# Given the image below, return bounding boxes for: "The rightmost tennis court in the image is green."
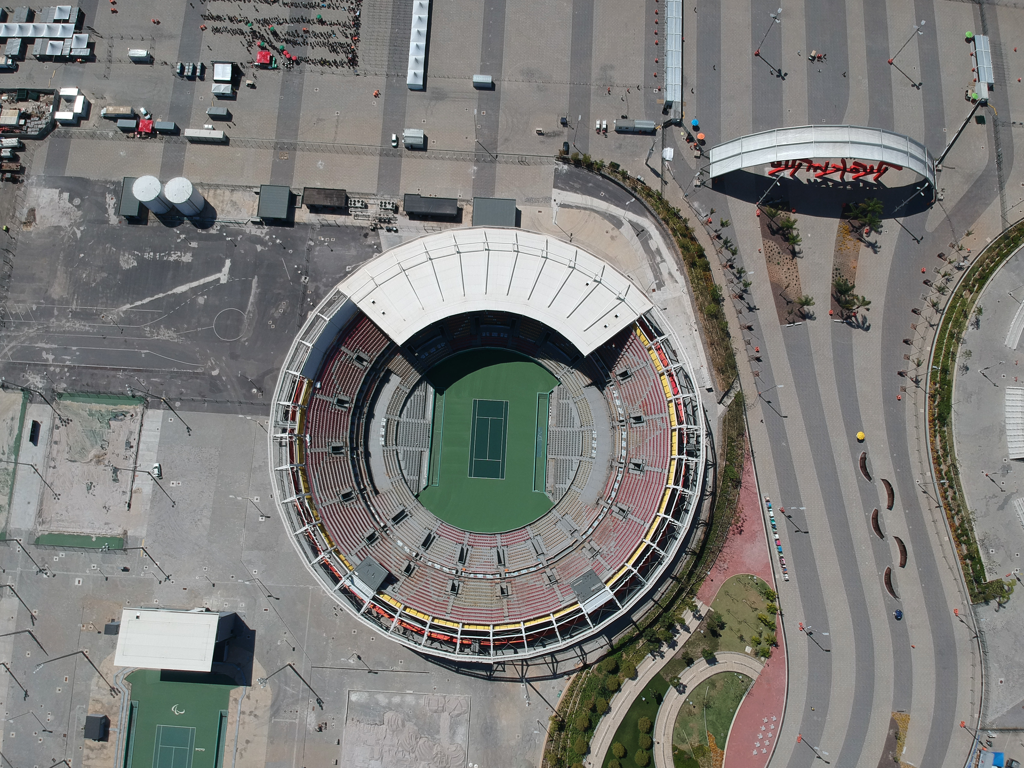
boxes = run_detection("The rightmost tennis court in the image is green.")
[399,353,580,533]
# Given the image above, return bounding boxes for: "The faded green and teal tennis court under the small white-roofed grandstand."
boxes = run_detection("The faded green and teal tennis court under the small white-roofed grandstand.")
[120,668,242,768]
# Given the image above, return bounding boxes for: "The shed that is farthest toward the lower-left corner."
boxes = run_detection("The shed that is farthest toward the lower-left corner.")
[84,714,109,739]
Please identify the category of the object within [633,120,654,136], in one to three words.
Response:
building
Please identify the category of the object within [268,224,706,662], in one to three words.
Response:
stadium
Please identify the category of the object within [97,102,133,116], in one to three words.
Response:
vehicle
